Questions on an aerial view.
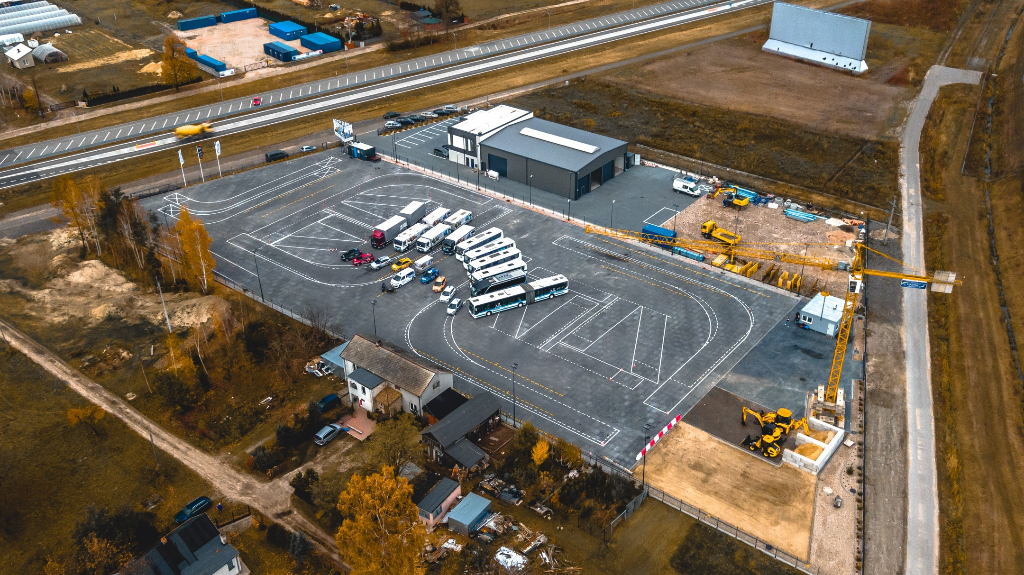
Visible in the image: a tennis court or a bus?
bus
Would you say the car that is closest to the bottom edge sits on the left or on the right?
left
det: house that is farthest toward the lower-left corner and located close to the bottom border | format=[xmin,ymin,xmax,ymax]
[103,511,236,575]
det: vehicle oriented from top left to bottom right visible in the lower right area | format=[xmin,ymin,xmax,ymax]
[741,405,787,444]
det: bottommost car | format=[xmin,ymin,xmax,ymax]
[169,490,212,521]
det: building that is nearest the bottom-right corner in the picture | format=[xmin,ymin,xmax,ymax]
[801,297,847,340]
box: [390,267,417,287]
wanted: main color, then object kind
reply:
white vehicle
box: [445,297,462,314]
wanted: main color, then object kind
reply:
white car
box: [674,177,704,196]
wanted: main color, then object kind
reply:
white vehicle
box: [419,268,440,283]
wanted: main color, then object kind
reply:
blue car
